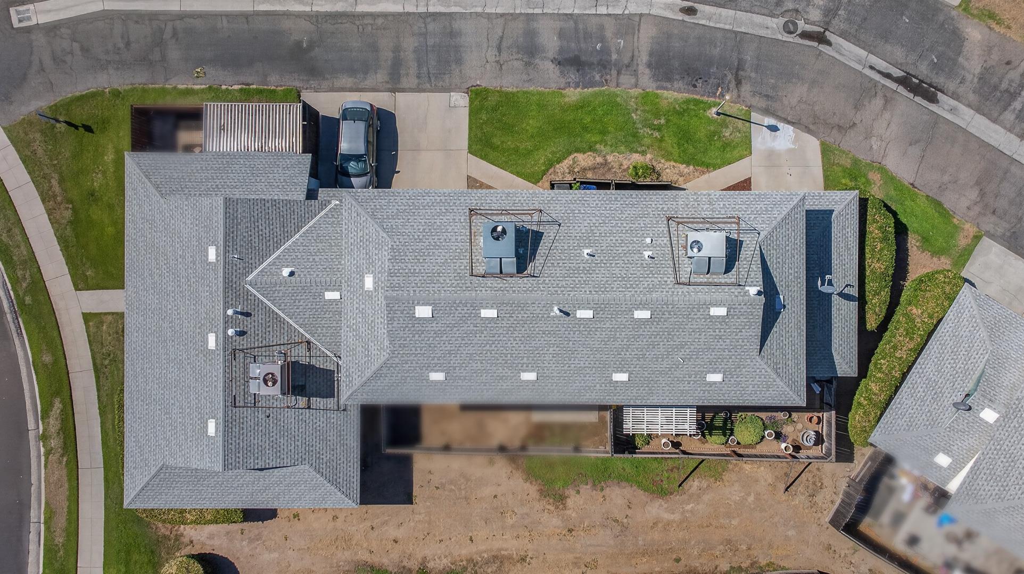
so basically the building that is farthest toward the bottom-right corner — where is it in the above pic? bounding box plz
[868,282,1024,544]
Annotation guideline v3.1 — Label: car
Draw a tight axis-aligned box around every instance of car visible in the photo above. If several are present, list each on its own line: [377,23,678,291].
[331,102,380,189]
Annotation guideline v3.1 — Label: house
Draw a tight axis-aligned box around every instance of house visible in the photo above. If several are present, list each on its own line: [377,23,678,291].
[124,151,859,510]
[868,282,1024,544]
